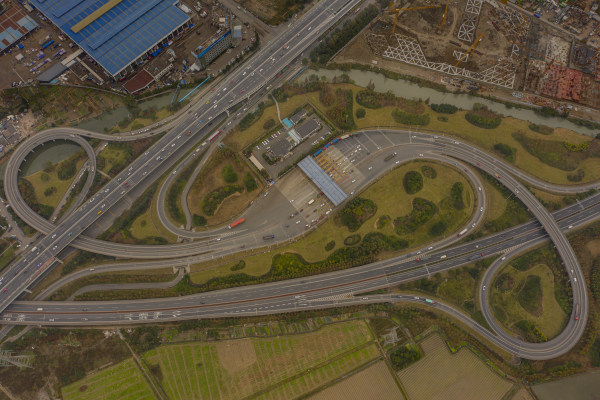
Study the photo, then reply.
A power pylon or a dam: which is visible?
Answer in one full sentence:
There is a power pylon in the scene.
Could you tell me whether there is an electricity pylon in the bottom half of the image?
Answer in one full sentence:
Yes, you'll find an electricity pylon in the bottom half of the image.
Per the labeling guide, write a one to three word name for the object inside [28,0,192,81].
building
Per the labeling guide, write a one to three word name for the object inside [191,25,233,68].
building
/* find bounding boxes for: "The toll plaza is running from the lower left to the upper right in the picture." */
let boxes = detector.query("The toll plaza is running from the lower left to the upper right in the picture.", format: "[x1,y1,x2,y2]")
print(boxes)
[209,128,449,257]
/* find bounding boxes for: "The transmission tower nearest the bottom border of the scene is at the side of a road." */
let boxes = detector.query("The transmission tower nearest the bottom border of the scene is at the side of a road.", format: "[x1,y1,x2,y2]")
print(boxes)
[1,344,37,372]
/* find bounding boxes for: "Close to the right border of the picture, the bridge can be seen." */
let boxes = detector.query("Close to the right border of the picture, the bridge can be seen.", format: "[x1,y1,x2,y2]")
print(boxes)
[434,141,588,359]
